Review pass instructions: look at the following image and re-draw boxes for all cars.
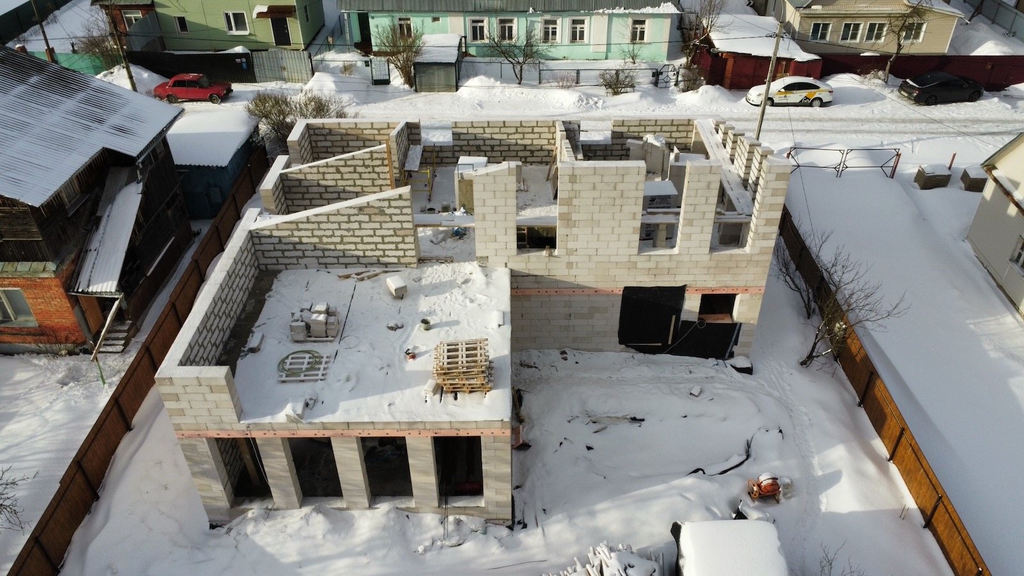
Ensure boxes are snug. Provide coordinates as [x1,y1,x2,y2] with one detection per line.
[898,69,983,105]
[744,68,838,105]
[152,72,238,105]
